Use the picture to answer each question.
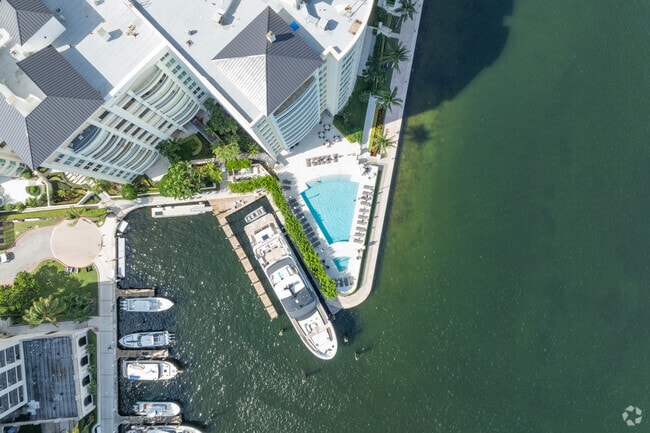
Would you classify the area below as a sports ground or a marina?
marina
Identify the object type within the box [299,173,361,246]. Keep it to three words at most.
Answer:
swimming pool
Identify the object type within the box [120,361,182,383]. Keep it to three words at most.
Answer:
boat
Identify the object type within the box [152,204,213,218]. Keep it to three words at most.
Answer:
pier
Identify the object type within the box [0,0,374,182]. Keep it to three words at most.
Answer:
building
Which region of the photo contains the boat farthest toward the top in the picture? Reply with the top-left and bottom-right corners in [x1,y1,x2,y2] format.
[243,207,265,222]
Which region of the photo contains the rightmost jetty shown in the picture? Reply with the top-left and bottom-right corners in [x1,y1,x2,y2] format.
[216,215,277,319]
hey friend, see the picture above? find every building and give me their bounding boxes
[0,0,374,182]
[0,326,96,433]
